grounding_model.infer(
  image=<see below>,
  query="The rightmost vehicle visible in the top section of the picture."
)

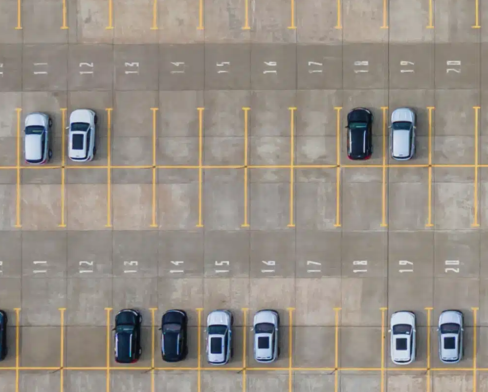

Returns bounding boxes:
[390,107,417,161]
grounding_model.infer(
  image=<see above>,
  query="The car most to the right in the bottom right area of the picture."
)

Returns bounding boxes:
[437,309,464,364]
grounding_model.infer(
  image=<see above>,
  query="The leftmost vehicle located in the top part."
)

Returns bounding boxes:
[24,113,52,165]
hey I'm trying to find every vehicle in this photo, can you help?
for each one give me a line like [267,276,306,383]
[390,107,417,161]
[160,308,188,361]
[346,107,373,160]
[206,309,233,365]
[390,310,417,364]
[24,113,52,165]
[437,309,464,364]
[114,308,142,362]
[0,309,8,361]
[69,109,97,162]
[252,308,280,362]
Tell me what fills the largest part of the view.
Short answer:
paved ground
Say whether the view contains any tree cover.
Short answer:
No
